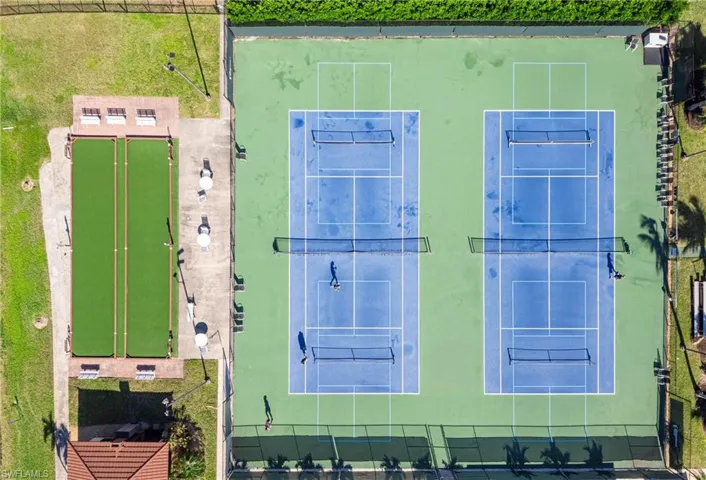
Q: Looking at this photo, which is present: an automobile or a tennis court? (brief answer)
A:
tennis court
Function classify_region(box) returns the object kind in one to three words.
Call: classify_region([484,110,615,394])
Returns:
tennis court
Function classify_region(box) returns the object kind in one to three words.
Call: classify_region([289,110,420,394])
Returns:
tennis court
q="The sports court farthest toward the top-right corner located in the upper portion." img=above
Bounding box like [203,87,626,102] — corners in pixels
[513,63,586,223]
